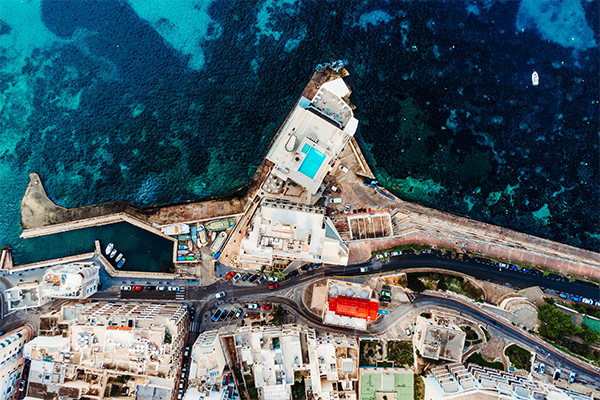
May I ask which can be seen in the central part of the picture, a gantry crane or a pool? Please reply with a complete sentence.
What appears in the central part of the picture is a pool.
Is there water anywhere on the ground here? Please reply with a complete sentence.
Yes, some water is visible.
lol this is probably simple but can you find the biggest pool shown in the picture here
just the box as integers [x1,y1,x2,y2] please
[297,145,328,180]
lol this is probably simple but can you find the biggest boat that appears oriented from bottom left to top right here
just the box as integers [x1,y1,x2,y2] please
[210,232,225,255]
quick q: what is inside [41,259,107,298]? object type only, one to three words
house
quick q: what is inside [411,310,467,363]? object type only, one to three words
house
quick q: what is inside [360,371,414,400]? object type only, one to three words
sports court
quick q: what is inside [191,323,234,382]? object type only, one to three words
building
